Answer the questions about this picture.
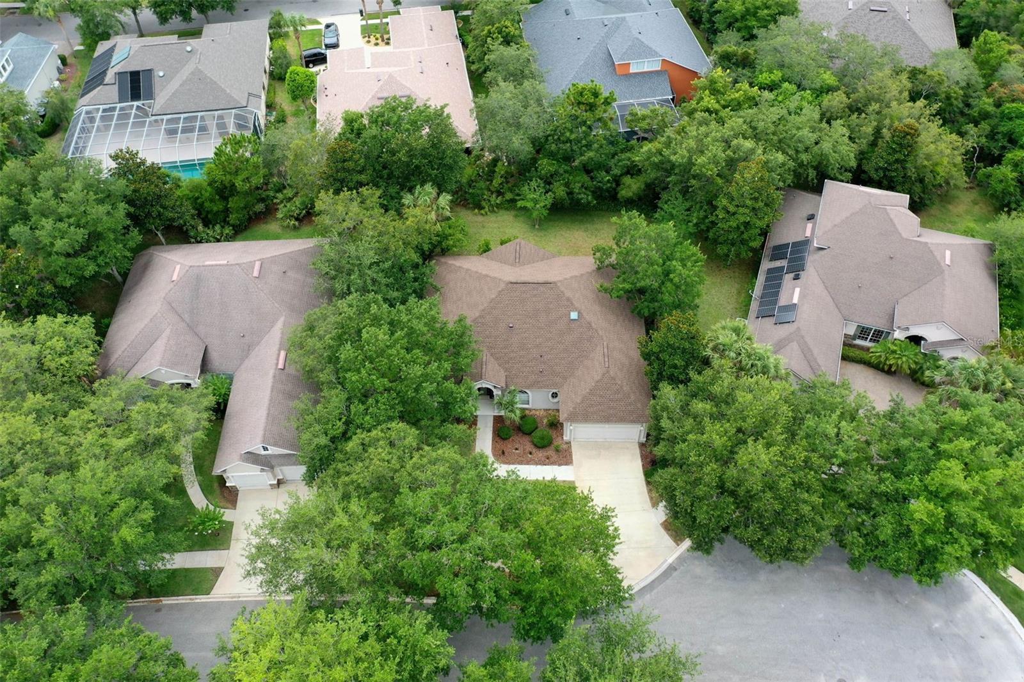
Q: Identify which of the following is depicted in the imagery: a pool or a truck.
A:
pool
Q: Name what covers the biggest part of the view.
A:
trees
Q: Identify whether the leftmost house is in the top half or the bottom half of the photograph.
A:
top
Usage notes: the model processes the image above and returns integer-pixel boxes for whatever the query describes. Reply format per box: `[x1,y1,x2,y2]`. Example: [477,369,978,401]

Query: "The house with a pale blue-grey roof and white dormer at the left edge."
[0,25,50,110]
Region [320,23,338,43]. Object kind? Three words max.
car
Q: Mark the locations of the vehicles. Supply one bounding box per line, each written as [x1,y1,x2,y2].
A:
[298,43,338,64]
[320,23,338,43]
